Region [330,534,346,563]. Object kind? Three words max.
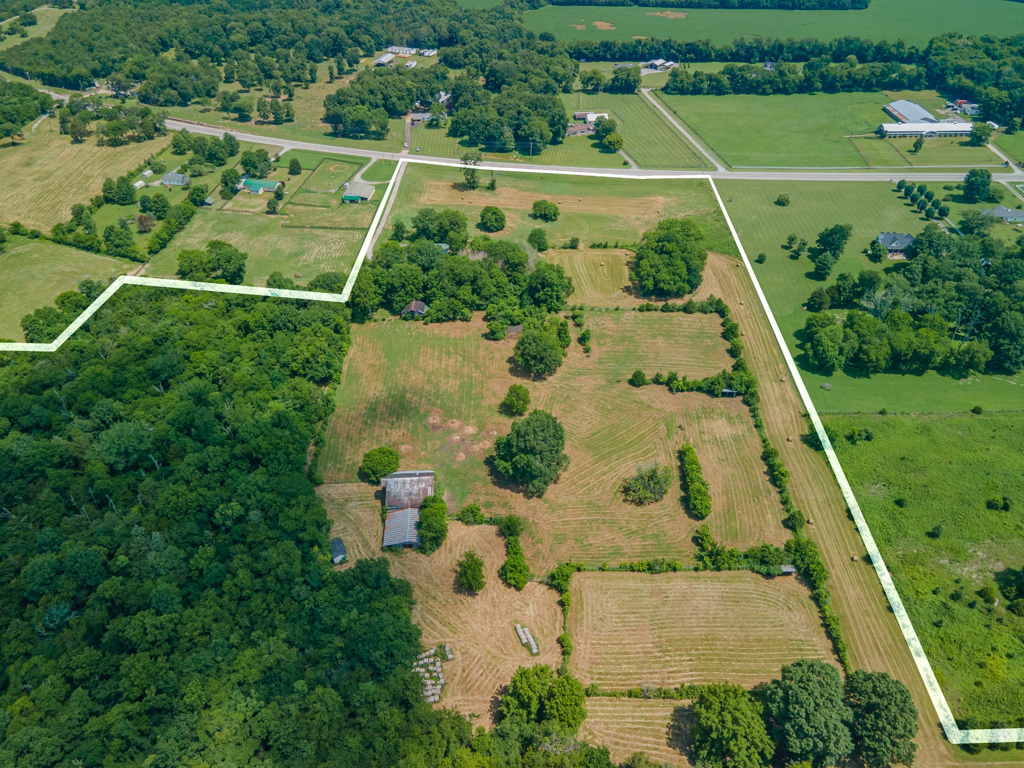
shed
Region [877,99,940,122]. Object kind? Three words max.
barn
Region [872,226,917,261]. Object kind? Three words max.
house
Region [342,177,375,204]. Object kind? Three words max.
barn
